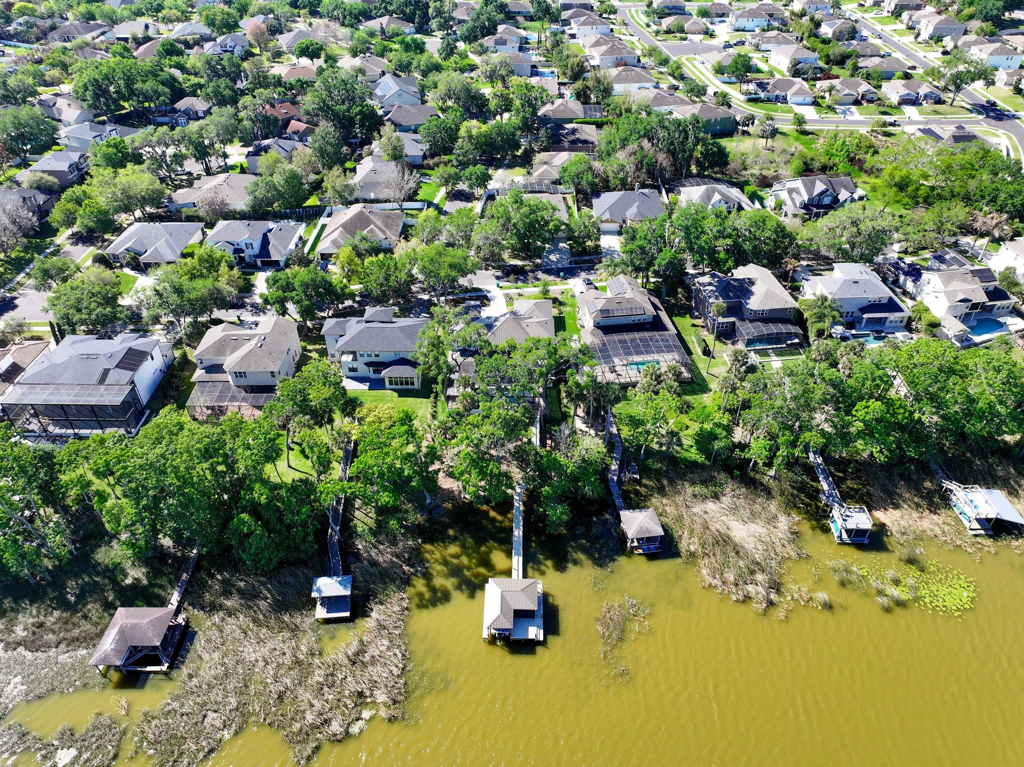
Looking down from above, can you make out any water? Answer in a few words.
Yes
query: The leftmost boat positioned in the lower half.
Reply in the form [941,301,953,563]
[492,629,508,647]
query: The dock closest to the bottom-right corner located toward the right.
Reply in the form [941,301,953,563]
[946,486,1024,537]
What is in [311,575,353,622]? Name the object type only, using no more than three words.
pier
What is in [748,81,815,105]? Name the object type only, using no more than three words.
house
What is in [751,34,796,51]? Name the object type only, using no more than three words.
house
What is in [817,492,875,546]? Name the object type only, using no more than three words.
pier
